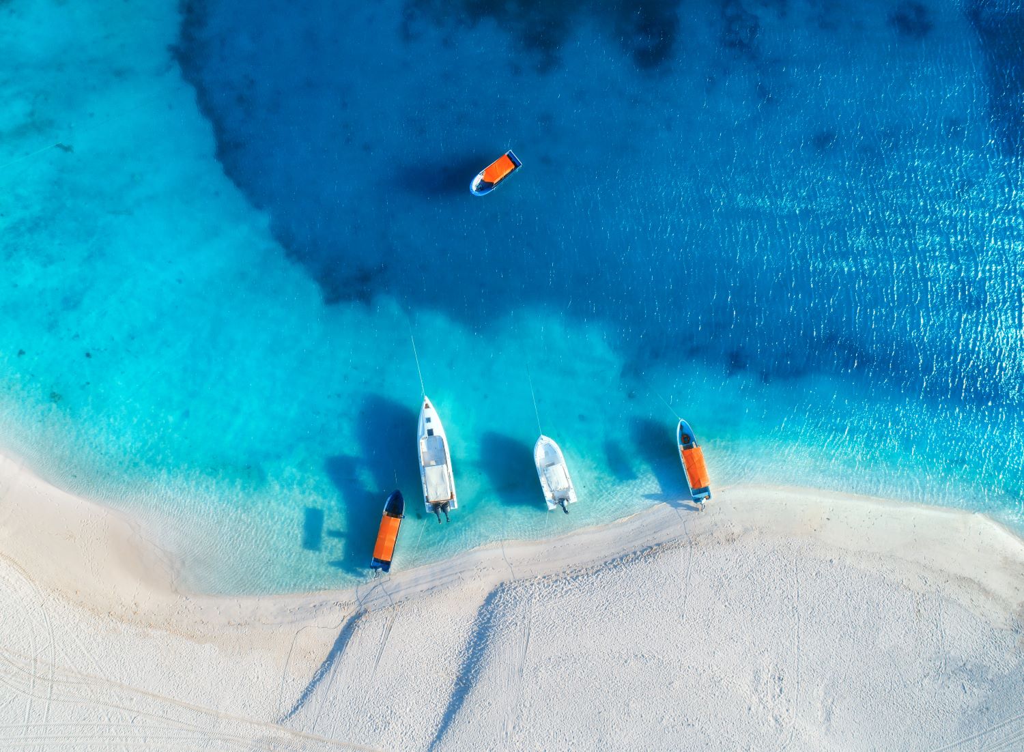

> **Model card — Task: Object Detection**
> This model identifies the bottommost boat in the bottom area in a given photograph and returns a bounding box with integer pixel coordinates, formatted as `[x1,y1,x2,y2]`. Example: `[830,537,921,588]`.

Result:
[371,489,403,576]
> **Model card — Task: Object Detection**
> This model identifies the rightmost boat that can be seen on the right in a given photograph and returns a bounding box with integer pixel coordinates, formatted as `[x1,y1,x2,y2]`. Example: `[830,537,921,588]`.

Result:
[677,419,712,508]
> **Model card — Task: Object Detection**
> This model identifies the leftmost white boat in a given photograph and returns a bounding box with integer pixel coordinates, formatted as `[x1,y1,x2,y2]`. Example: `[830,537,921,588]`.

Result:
[416,395,457,521]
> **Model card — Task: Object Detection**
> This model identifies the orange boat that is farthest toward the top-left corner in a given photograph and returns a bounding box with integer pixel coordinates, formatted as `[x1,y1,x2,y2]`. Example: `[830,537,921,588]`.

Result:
[470,150,523,196]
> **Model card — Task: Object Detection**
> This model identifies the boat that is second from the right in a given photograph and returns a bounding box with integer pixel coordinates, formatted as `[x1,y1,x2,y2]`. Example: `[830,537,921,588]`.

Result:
[534,434,577,512]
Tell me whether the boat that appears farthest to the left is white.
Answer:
No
